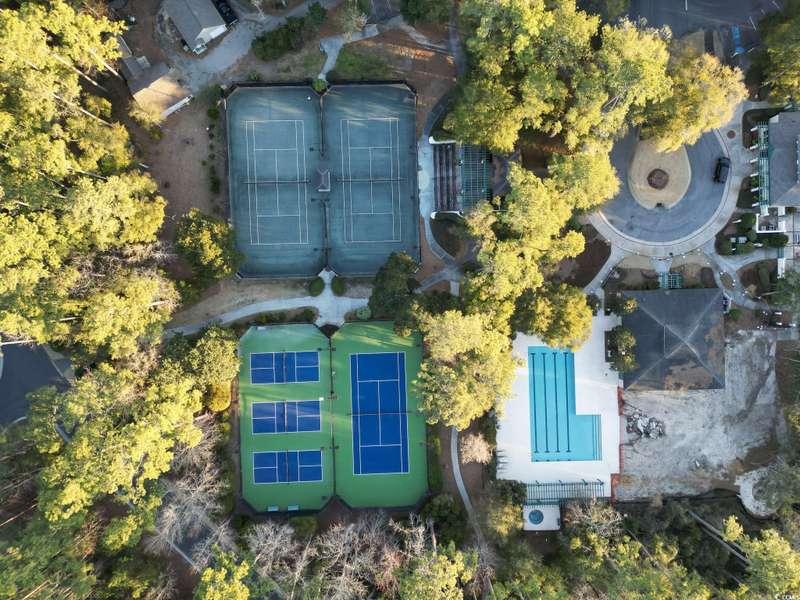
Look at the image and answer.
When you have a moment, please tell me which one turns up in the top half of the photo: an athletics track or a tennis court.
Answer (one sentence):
The one visible in the top half of the photo is a tennis court.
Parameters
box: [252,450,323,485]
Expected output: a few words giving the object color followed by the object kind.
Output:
blue sports court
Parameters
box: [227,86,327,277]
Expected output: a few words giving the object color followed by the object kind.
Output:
blue tennis court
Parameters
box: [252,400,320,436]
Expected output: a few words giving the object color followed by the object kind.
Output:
blue sports court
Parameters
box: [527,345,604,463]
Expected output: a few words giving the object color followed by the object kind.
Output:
blue swimming pool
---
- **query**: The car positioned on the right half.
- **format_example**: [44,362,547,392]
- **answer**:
[712,157,730,184]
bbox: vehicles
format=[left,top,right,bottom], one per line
[712,157,730,184]
[215,0,239,25]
